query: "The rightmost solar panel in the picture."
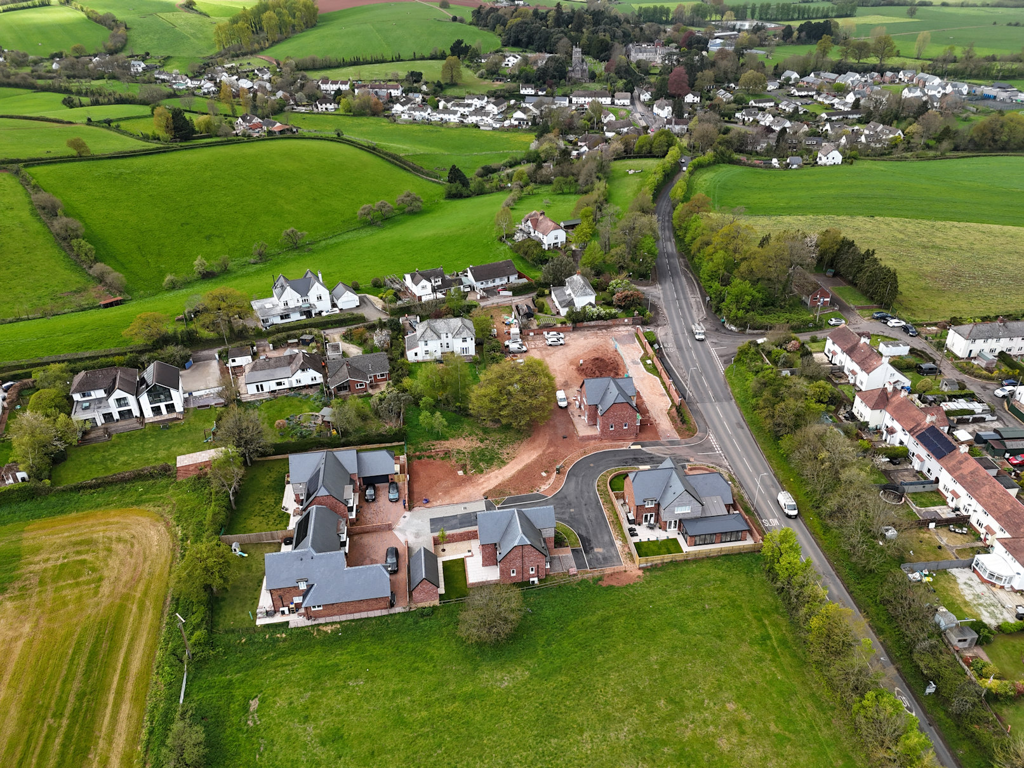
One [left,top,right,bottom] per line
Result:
[916,430,951,460]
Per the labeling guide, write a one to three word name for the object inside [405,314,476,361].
house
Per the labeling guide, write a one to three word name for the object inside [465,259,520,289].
house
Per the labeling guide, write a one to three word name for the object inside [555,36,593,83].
building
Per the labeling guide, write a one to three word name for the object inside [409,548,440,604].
building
